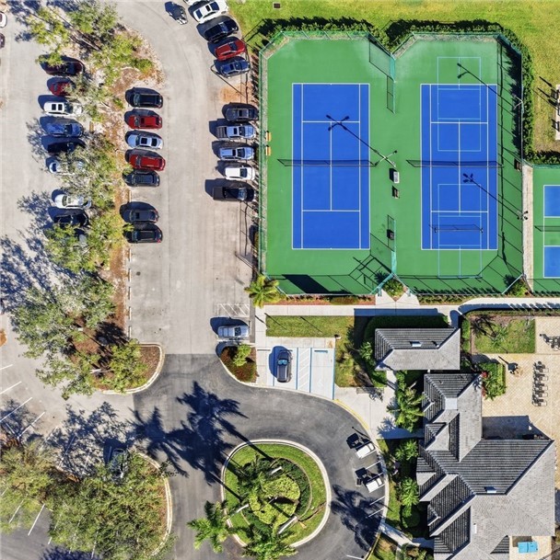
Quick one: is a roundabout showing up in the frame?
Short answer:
Yes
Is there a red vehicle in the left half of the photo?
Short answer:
Yes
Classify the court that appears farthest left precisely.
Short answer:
tennis court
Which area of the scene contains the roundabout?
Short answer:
bottom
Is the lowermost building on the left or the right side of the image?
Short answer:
right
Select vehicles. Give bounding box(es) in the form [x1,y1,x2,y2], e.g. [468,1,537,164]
[129,226,165,242]
[356,441,377,459]
[364,475,386,493]
[173,9,186,23]
[224,166,255,181]
[0,13,10,28]
[218,146,255,160]
[191,0,228,22]
[129,88,163,105]
[213,39,249,60]
[275,350,292,383]
[128,170,162,186]
[46,120,84,137]
[109,446,130,479]
[44,57,83,75]
[211,184,255,202]
[129,132,164,148]
[45,138,82,155]
[45,99,83,117]
[0,33,6,48]
[128,207,162,223]
[129,112,163,128]
[45,80,77,96]
[216,123,255,139]
[223,104,259,121]
[219,58,251,77]
[130,152,166,170]
[217,324,251,339]
[202,18,240,41]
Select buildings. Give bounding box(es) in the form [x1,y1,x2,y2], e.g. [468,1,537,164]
[417,374,555,560]
[374,328,460,371]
